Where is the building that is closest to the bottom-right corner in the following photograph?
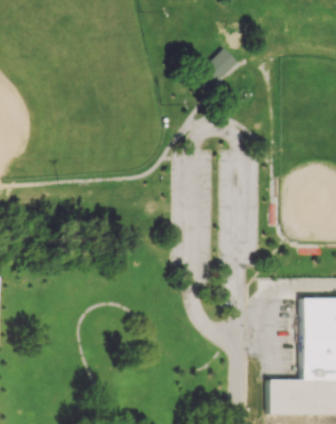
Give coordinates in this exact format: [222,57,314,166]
[264,379,336,416]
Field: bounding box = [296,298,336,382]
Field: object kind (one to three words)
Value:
building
